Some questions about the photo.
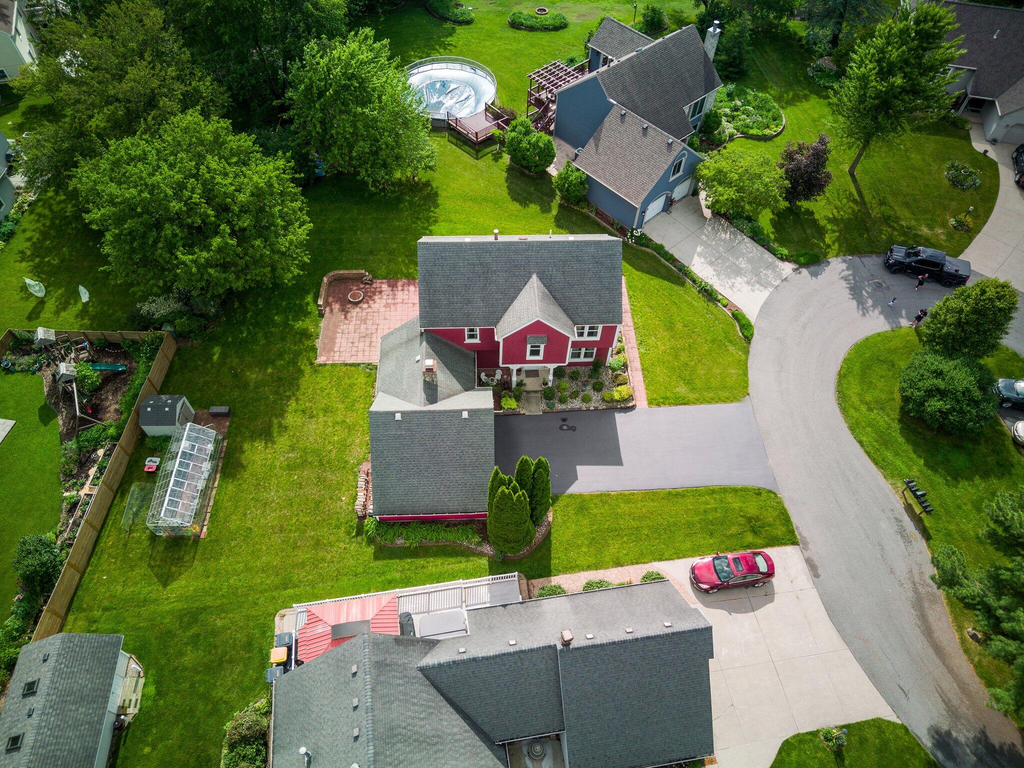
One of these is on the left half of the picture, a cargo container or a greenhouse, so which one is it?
greenhouse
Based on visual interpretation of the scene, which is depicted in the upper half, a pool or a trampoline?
pool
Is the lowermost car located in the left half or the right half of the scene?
right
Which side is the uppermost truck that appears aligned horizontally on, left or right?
right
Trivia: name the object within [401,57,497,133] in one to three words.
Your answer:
swimming pool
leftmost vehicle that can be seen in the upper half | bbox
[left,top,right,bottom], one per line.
[887,244,974,288]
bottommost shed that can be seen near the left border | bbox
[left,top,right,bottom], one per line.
[0,633,130,768]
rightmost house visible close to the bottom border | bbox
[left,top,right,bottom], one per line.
[270,579,714,768]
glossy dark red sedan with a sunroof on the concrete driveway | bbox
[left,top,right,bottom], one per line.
[691,552,780,594]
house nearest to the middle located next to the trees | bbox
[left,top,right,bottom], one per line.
[370,229,623,524]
